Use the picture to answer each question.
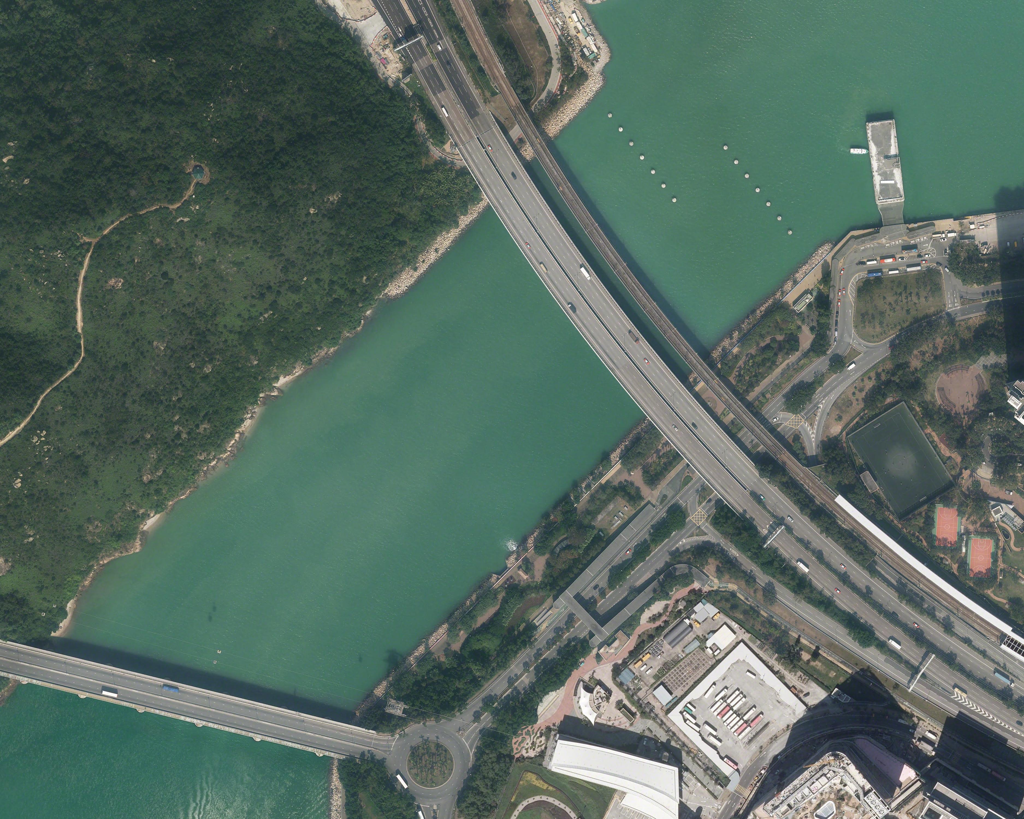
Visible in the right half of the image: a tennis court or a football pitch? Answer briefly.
football pitch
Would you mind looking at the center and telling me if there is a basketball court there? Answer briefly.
No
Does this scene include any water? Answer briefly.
Yes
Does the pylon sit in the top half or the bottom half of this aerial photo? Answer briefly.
bottom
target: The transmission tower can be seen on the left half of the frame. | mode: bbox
[383,695,409,718]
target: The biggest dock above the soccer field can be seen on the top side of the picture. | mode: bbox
[866,118,905,204]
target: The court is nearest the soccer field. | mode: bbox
[932,504,962,547]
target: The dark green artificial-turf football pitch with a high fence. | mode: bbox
[846,401,955,520]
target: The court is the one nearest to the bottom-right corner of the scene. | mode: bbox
[967,535,997,580]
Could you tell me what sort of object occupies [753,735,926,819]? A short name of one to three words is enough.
building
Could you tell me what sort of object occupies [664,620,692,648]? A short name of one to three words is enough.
greenhouse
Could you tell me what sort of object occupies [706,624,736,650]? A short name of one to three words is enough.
building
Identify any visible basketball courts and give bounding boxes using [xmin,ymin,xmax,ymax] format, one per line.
[932,504,962,547]
[967,535,997,580]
